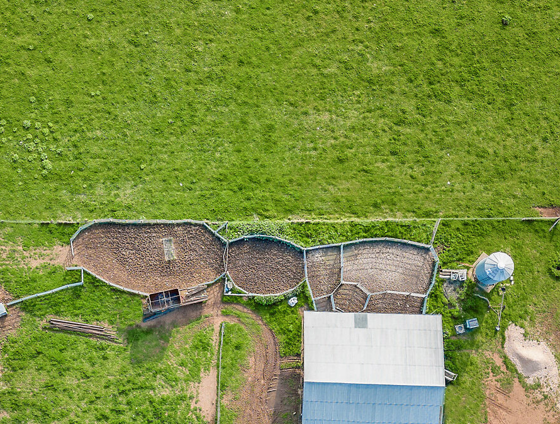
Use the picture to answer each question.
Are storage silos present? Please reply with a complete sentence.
Yes, a storage silo can be made out from above.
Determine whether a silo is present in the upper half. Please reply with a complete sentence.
No, no silo is visible in the upper half.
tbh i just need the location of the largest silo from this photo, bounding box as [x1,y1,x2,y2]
[469,251,514,291]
